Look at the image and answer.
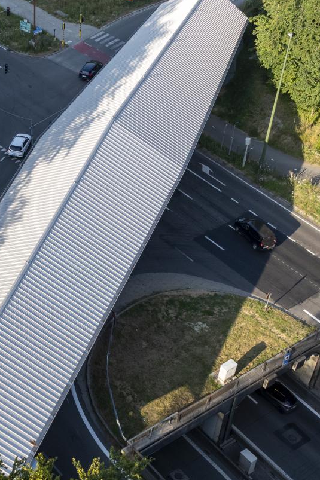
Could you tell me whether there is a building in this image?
No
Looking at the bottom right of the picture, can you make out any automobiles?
Yes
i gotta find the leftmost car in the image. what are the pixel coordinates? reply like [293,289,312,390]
[4,136,33,160]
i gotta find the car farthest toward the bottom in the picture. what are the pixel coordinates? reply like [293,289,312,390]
[254,380,308,422]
